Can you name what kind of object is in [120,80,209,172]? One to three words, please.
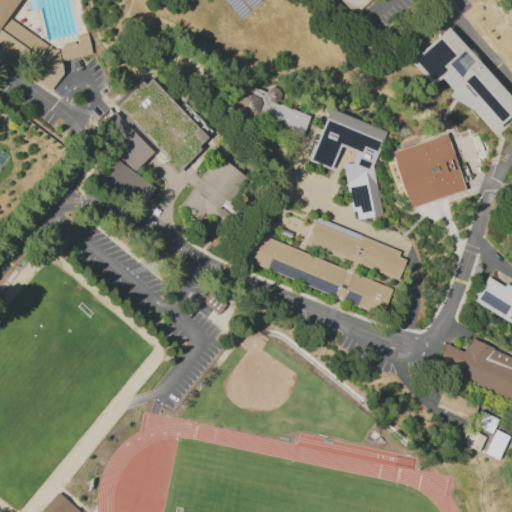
building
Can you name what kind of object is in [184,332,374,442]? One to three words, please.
baseball field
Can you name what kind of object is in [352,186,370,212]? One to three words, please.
solar panel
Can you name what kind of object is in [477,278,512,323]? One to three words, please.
house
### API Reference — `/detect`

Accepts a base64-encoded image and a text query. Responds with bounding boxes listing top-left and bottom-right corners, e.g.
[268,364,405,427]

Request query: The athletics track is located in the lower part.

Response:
[94,414,457,512]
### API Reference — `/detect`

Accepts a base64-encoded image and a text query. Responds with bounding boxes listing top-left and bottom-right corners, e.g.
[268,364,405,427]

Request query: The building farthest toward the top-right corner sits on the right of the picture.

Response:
[416,29,512,129]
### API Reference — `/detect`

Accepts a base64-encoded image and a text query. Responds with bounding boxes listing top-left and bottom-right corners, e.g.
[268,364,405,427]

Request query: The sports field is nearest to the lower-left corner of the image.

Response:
[0,264,153,510]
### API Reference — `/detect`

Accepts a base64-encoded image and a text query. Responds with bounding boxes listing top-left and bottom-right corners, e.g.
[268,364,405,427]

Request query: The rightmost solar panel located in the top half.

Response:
[468,76,510,120]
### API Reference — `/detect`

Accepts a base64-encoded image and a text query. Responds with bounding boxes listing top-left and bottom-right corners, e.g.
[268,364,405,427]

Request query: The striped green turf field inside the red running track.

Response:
[164,438,440,512]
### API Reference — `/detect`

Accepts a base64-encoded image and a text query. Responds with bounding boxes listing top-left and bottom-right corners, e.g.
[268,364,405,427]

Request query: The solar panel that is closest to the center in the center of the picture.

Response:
[270,259,338,294]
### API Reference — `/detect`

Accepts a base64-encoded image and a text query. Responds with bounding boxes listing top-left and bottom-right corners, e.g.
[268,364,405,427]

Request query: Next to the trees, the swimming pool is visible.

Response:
[13,0,89,49]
